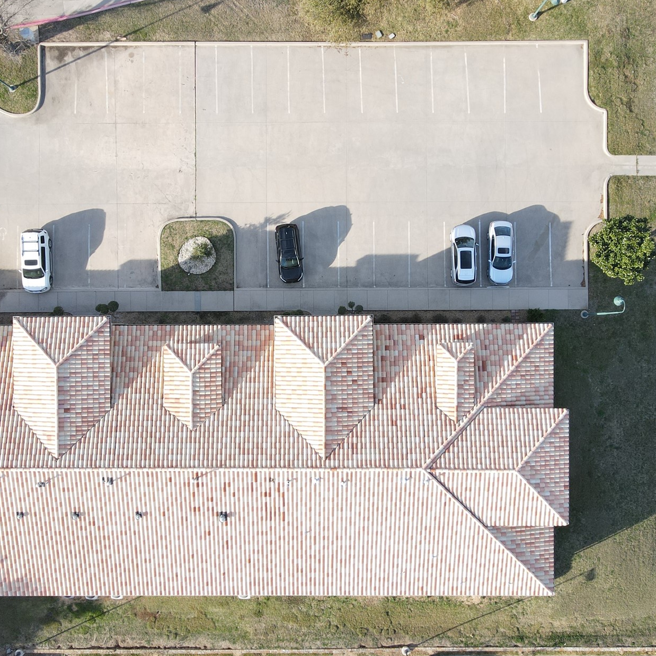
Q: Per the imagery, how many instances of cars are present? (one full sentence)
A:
The number of cars here is 4.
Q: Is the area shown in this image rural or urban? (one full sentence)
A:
The land in this view is best described as urban.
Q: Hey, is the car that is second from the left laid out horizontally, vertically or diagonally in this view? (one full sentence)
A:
I'd say the car that is second from the left is aligned vertically in the picture.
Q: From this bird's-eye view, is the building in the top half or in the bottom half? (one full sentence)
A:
You can find the building in the bottom half.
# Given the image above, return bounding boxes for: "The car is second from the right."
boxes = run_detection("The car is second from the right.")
[448,225,480,286]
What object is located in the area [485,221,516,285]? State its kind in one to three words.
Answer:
car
